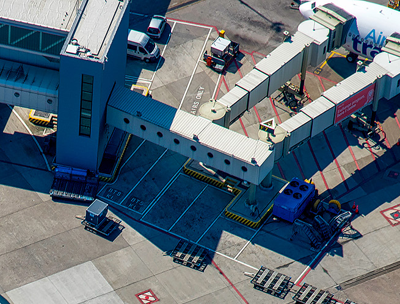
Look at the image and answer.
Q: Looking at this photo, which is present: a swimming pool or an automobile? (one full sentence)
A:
The one in the frame is an automobile.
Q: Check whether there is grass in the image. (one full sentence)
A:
No, no grass is visible.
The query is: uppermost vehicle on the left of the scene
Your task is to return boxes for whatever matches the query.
[142,13,171,43]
